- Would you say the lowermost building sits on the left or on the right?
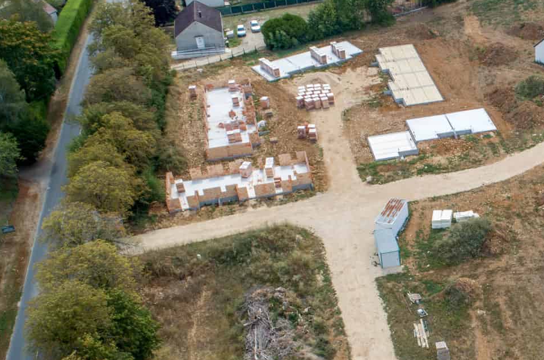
right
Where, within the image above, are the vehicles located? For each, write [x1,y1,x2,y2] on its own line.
[235,23,246,35]
[249,18,261,30]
